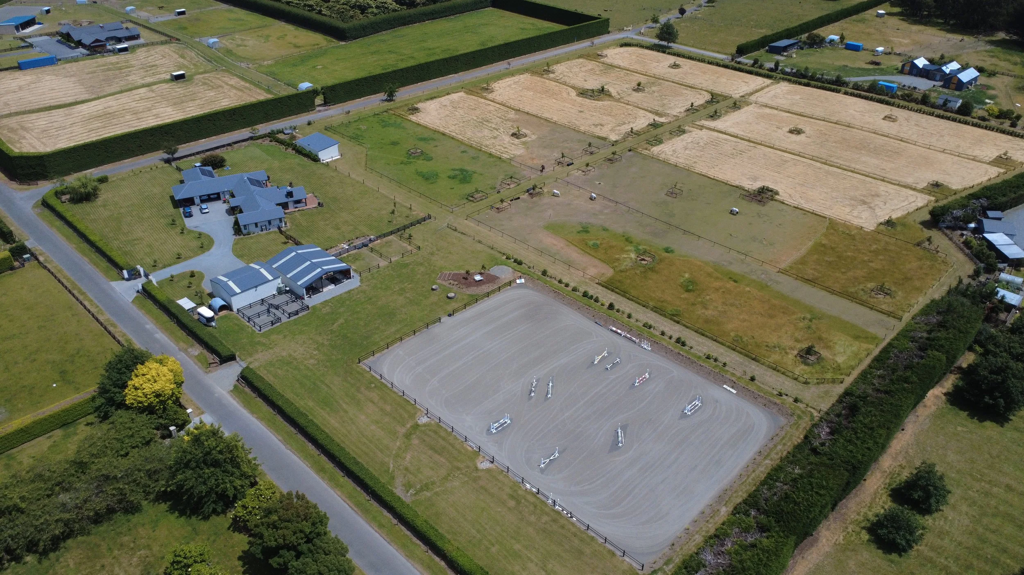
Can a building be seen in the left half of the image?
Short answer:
Yes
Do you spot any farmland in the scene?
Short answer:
Yes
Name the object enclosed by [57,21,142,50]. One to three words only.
house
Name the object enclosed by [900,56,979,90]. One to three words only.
house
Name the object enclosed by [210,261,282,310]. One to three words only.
shed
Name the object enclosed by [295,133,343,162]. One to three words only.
shed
